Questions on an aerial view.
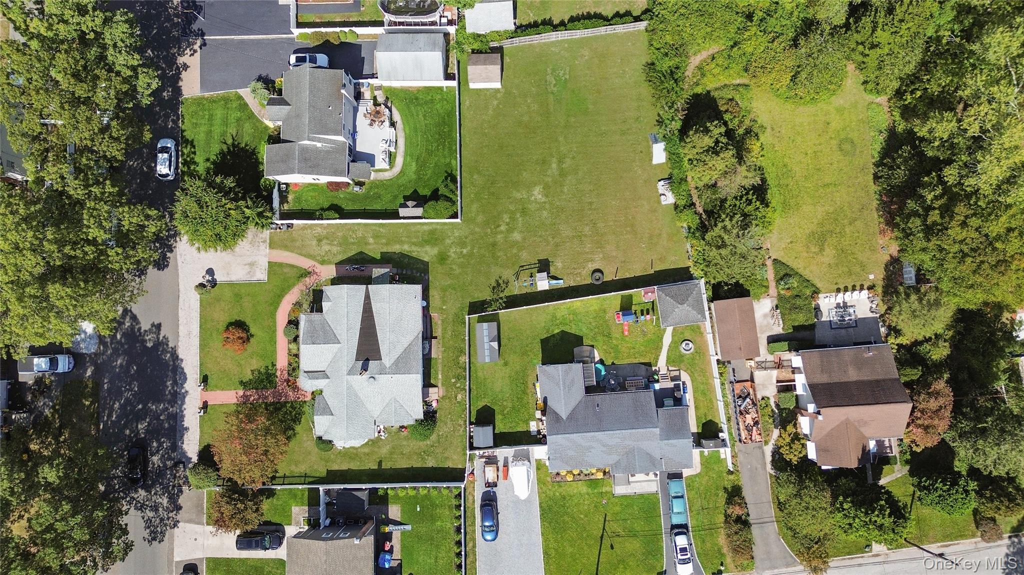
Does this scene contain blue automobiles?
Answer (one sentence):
Yes, looking at the shot, I can spot a blue automobile.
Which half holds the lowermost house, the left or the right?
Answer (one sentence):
The lowermost house sits on the left side.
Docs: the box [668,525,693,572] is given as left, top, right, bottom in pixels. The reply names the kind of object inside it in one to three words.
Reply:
car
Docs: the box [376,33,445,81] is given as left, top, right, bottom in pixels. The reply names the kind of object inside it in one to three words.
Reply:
building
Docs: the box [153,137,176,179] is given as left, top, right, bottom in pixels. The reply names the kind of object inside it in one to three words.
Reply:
car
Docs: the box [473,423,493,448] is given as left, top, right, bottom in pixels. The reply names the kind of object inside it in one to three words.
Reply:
shed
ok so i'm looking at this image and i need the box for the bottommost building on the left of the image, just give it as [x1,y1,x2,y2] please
[286,516,380,575]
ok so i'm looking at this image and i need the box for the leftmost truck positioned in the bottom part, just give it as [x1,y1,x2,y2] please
[17,351,74,373]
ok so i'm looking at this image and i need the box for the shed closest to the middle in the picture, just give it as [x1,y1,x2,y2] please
[476,322,499,363]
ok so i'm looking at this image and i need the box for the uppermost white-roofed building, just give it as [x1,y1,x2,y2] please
[464,0,514,39]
